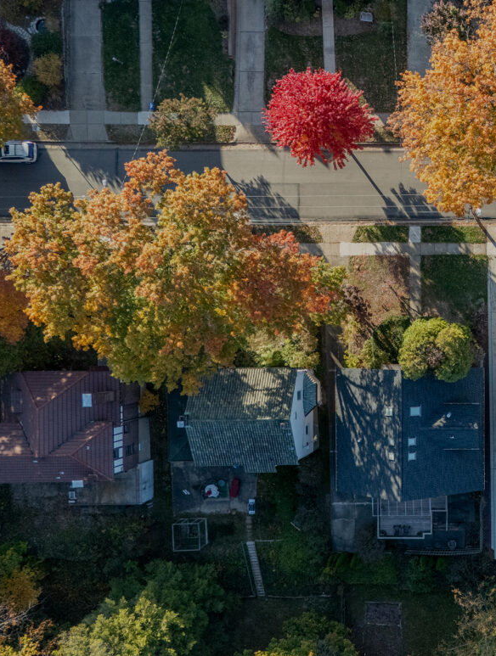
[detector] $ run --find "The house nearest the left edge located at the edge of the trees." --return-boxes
[0,370,161,507]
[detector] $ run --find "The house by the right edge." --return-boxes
[336,357,485,501]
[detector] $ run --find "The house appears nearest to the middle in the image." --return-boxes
[167,368,324,466]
